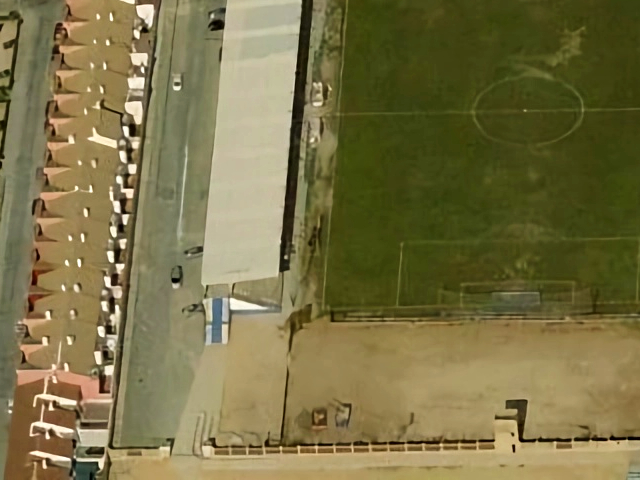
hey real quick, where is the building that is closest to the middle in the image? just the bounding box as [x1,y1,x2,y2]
[206,296,229,345]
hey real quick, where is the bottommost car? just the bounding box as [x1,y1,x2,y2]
[181,302,206,315]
